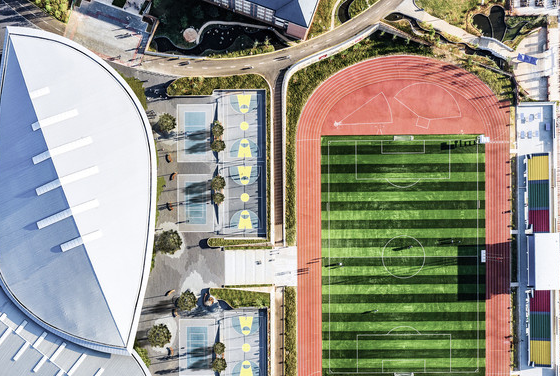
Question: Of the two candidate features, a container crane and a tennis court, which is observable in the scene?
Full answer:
There is a tennis court in the scene.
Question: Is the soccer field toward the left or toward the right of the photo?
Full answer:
It is on the right.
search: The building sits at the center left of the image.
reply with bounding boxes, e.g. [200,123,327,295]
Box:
[0,28,157,354]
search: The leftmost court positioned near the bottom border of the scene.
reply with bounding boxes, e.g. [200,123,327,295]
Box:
[179,319,216,376]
